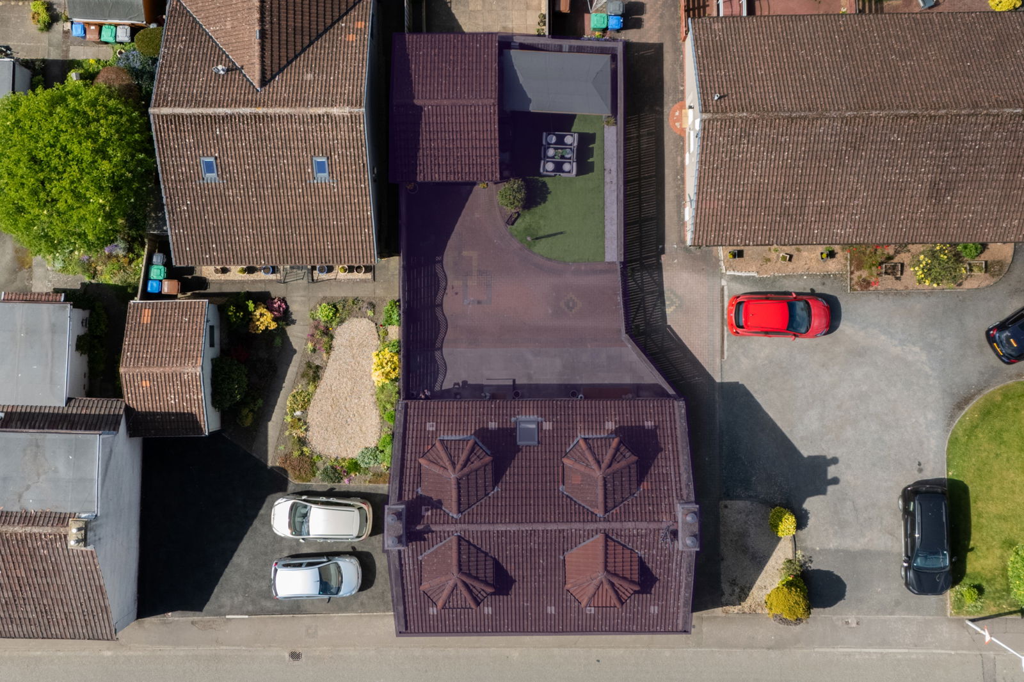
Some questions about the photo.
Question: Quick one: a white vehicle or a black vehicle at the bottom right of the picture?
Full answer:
The one visible at the bottom right of the picture is a black vehicle.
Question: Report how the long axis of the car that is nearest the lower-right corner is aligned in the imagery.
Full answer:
From this overhead view, the car that is nearest the lower-right corner appears to run up and down.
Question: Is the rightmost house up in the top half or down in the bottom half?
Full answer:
You can find the rightmost house in the top half.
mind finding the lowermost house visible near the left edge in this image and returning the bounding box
[0,396,141,643]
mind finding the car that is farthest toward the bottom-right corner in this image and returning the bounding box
[902,484,961,598]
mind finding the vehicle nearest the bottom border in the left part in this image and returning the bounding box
[268,554,362,607]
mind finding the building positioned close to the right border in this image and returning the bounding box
[685,10,1024,249]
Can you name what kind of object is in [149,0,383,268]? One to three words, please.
house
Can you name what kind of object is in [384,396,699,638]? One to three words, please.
house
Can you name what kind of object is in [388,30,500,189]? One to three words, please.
building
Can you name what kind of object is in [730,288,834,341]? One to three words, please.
car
